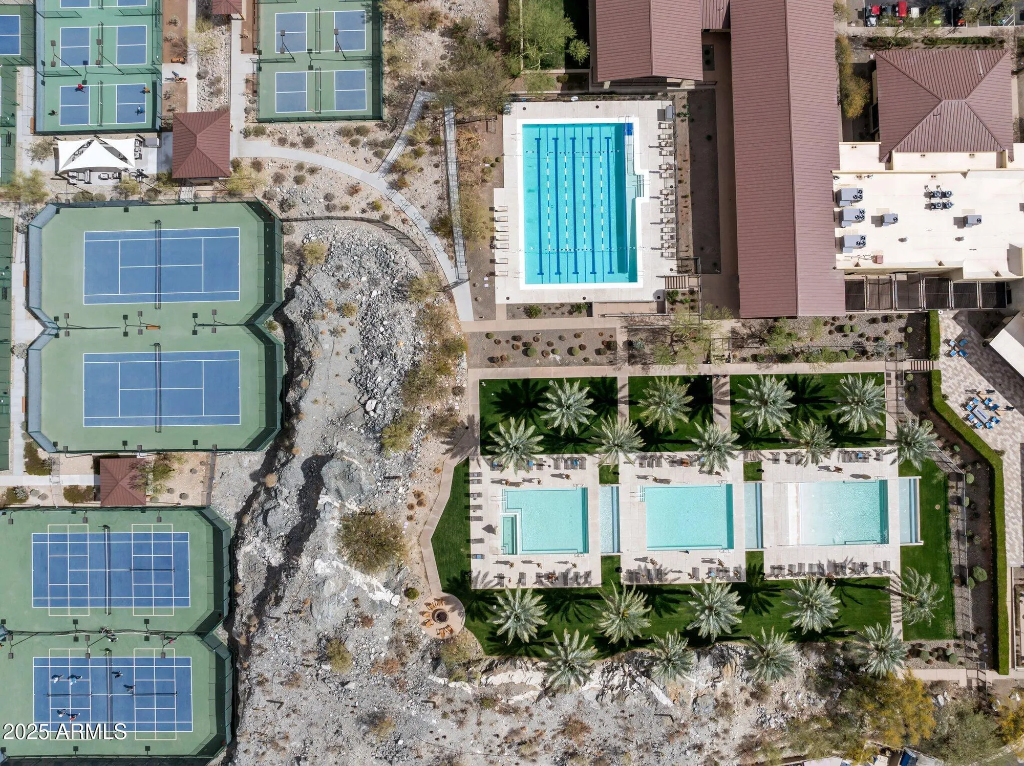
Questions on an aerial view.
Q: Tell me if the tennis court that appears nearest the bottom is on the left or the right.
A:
left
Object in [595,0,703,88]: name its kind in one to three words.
building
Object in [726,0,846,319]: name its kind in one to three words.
building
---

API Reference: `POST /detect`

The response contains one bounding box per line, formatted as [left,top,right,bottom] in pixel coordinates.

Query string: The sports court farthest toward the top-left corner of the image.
[0,4,34,65]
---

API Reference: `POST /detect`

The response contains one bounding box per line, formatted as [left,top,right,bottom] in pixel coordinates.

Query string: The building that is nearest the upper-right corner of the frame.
[865,48,1015,163]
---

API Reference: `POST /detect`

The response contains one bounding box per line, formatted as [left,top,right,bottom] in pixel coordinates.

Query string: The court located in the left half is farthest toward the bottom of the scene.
[0,632,234,763]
